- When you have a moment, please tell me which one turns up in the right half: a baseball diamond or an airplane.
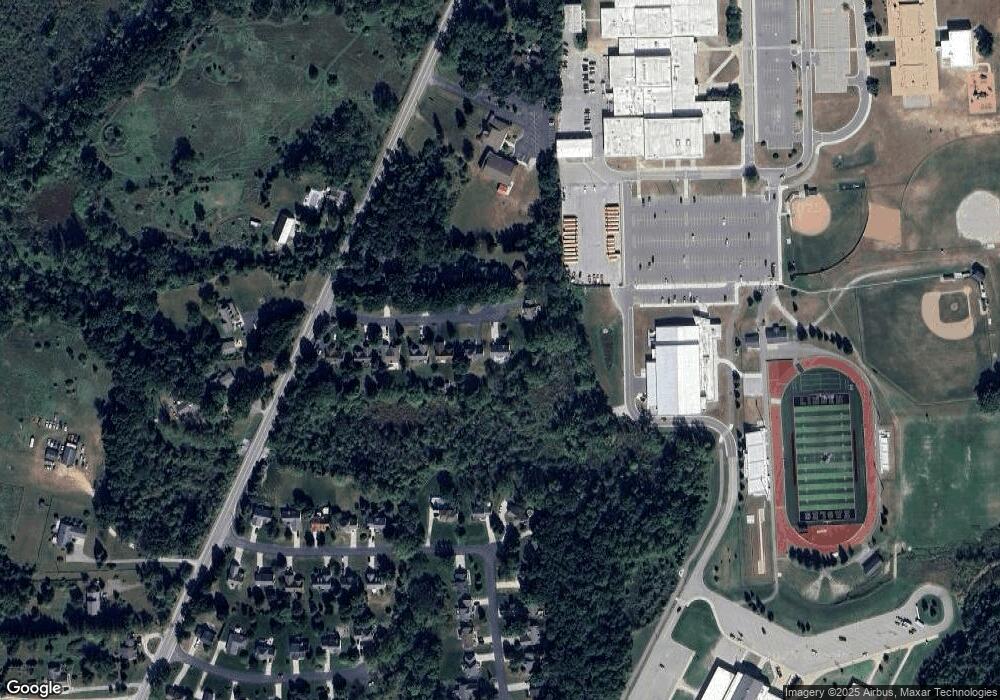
baseball diamond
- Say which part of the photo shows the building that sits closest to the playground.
top right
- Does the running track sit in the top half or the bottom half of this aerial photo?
bottom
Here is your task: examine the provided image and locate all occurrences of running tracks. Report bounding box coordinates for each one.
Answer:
[768,353,881,558]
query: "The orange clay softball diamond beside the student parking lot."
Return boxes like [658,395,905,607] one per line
[790,192,831,235]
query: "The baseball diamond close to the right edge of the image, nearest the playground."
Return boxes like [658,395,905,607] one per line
[957,190,1000,244]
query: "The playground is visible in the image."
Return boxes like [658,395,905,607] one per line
[968,62,995,113]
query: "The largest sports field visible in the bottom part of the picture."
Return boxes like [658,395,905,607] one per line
[781,368,867,525]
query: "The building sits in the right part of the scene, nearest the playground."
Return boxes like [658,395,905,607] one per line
[941,28,976,67]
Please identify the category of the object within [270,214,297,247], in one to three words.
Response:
barn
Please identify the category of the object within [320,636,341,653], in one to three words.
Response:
house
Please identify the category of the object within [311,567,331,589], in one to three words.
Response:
house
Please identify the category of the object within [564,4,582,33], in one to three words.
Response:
building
